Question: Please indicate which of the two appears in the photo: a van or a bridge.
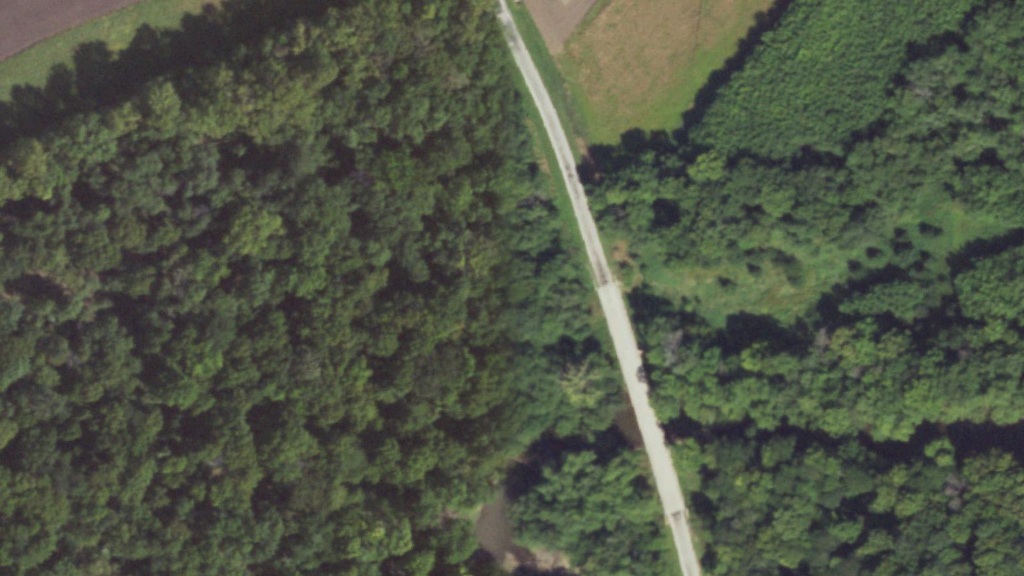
bridge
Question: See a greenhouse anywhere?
No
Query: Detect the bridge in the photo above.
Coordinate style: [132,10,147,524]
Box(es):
[596,279,688,523]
